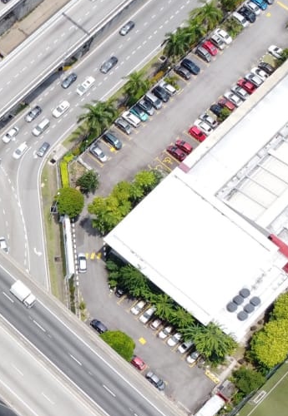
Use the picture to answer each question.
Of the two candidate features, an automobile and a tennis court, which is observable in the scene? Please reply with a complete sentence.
Of the two, only an automobile appears.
